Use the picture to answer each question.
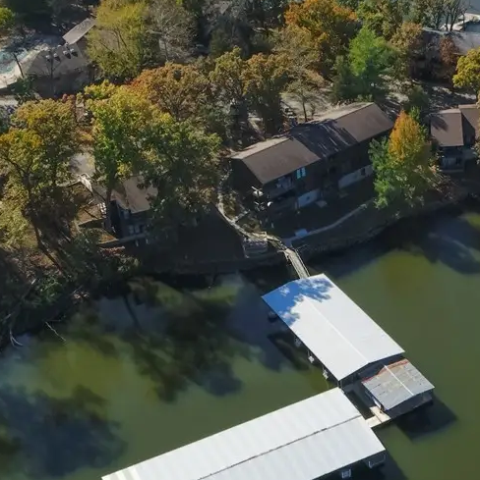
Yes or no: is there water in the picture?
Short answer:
Yes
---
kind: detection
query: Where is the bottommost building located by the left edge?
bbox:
[21,42,94,83]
